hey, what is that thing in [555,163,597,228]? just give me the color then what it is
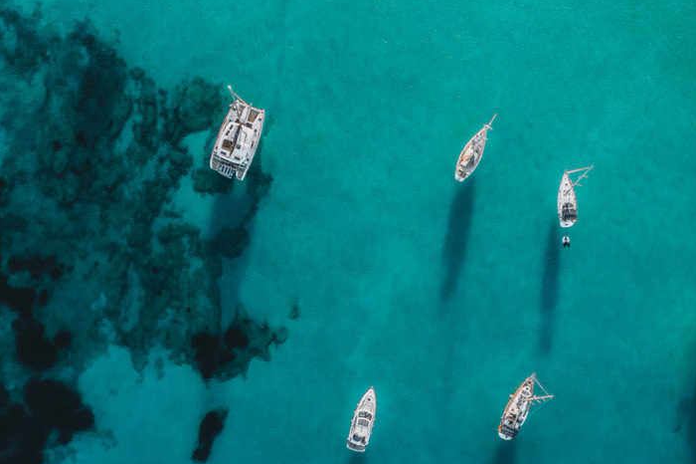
white boat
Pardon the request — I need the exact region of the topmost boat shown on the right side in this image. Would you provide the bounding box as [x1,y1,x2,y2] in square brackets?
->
[456,116,496,183]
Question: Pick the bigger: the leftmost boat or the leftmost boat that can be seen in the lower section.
the leftmost boat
